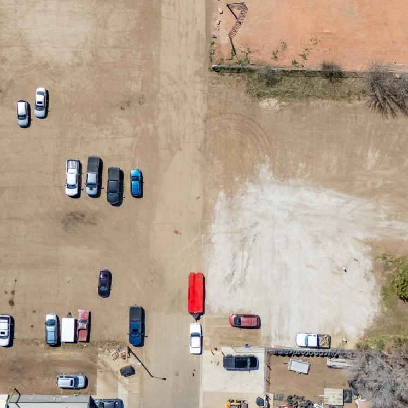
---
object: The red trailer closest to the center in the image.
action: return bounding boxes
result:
[188,272,203,317]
